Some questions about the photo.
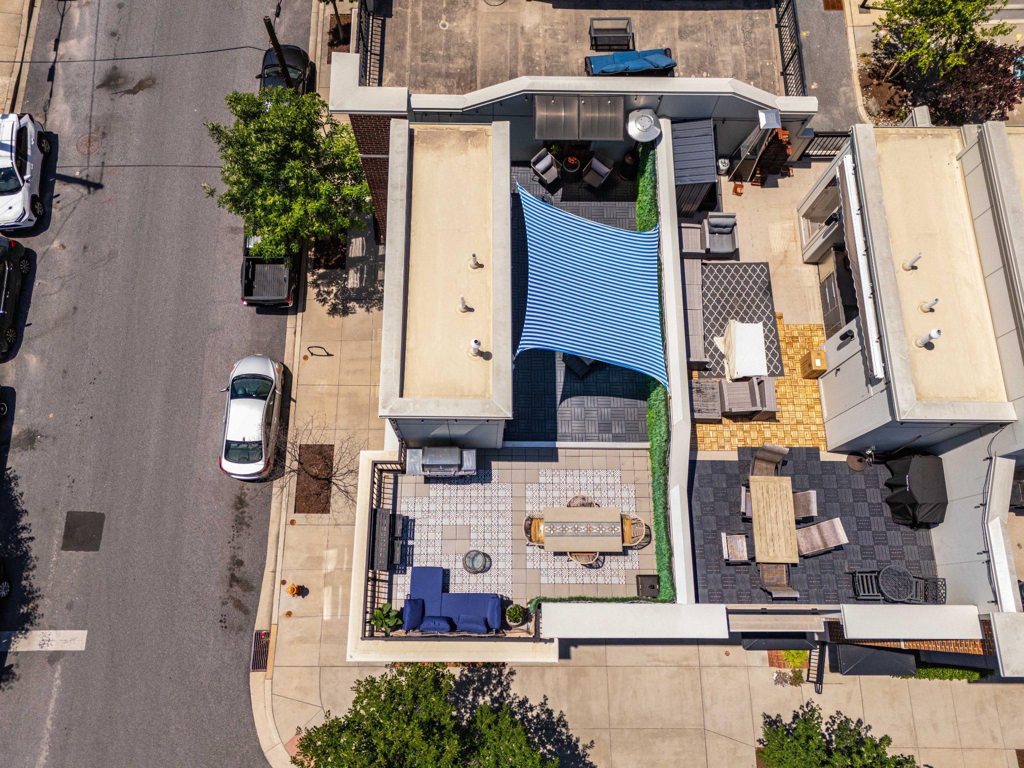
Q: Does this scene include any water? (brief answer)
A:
No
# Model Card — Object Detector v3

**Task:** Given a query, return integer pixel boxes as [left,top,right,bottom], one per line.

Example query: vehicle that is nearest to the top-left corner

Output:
[0,112,52,233]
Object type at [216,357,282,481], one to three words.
car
